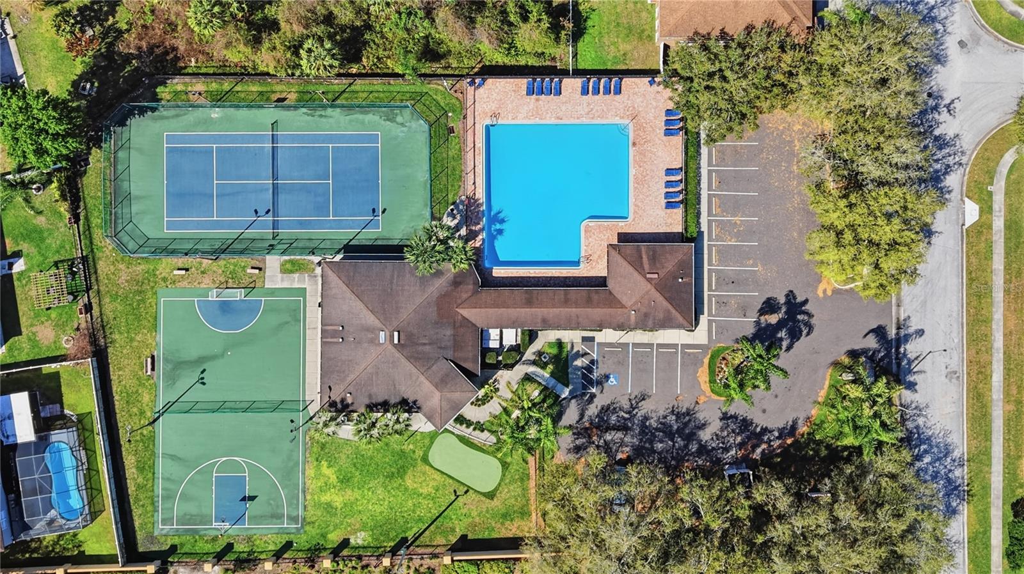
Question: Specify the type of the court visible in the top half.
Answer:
tennis court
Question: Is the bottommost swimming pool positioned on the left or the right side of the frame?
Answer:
left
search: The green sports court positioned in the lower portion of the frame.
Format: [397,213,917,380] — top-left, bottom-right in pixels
[154,288,306,534]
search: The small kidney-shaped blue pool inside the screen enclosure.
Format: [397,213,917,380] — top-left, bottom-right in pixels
[42,439,85,522]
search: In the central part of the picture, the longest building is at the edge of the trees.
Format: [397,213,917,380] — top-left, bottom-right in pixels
[317,243,695,431]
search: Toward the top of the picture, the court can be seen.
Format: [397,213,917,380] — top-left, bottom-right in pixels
[113,107,433,256]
